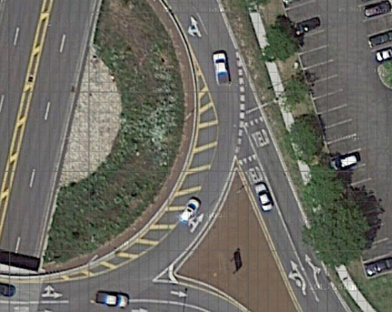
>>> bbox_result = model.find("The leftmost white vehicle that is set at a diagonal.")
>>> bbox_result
[181,195,202,223]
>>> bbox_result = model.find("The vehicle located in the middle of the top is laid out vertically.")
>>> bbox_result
[214,50,229,84]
